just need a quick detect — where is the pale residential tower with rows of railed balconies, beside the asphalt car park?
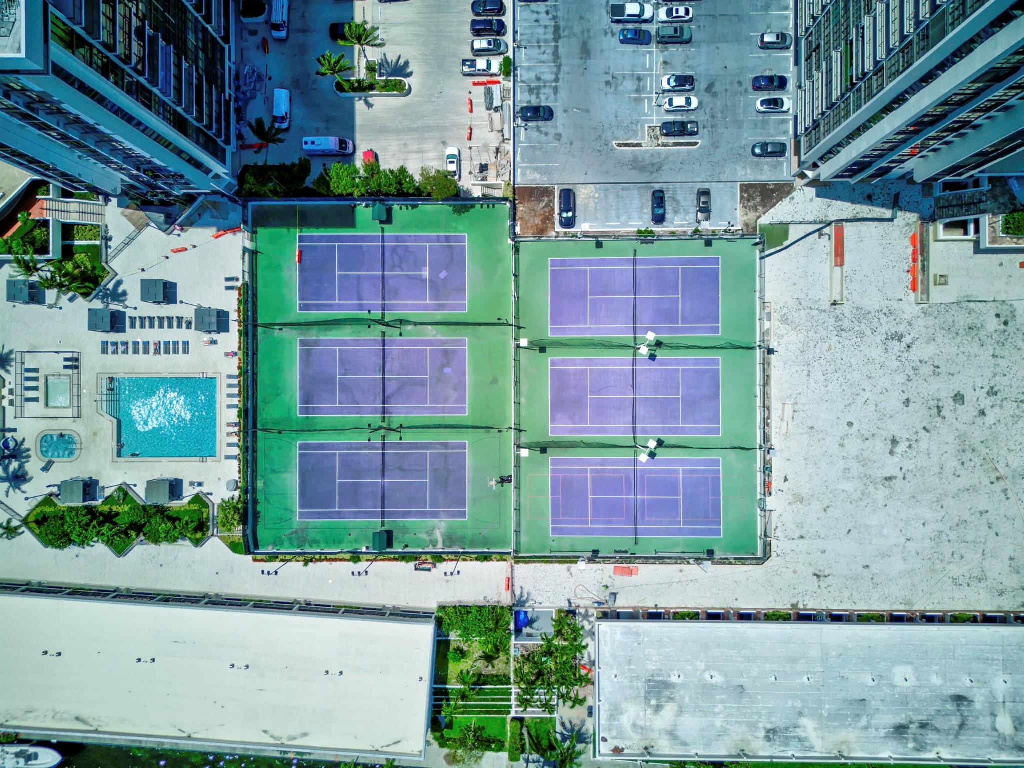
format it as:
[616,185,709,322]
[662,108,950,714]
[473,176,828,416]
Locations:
[795,0,1024,182]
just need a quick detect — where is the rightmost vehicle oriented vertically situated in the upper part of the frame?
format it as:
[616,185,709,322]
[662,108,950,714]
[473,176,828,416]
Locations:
[695,188,712,224]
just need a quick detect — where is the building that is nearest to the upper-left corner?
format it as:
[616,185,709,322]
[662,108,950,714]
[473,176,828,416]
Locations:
[0,0,238,199]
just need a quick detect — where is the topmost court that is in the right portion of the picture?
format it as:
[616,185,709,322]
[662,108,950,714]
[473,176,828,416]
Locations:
[548,248,721,343]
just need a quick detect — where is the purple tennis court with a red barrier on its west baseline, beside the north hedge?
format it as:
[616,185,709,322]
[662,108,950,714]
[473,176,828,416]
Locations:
[298,225,467,320]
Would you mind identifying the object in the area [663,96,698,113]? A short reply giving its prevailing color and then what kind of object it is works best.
white car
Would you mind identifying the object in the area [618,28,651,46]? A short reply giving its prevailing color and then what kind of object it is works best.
blue car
